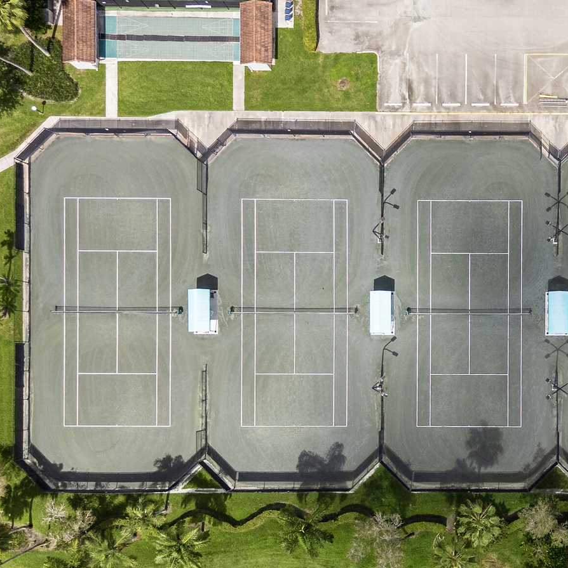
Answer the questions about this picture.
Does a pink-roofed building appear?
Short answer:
No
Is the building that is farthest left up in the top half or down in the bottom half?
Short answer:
top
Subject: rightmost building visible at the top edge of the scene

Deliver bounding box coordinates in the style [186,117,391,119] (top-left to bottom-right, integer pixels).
[239,0,276,69]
